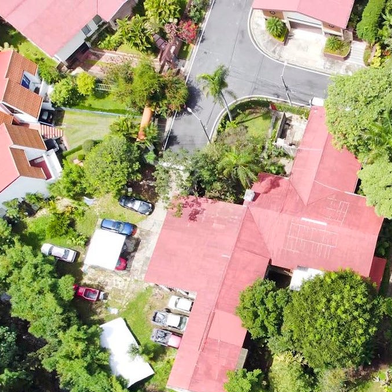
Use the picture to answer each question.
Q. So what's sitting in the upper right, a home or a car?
home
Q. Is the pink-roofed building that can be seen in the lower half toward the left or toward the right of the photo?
right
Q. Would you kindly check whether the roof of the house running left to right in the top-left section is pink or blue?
pink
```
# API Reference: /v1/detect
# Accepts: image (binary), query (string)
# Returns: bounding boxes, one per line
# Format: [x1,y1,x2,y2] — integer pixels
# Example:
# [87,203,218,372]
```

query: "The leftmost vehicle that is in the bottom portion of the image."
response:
[42,244,78,262]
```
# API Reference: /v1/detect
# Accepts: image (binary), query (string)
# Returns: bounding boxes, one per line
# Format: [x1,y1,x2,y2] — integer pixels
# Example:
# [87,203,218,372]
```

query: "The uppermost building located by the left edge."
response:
[0,0,150,70]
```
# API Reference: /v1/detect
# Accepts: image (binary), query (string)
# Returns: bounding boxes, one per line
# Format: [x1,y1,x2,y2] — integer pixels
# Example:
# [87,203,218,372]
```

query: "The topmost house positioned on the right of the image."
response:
[252,0,360,47]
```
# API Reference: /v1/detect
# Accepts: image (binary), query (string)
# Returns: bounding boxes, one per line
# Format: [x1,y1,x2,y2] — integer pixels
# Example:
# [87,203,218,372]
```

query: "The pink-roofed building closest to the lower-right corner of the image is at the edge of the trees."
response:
[144,106,387,392]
